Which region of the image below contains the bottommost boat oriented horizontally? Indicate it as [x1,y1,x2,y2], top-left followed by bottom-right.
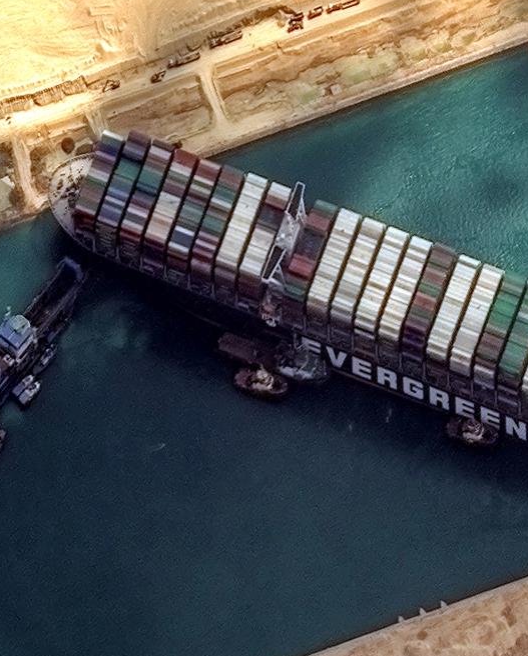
[447,420,497,450]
